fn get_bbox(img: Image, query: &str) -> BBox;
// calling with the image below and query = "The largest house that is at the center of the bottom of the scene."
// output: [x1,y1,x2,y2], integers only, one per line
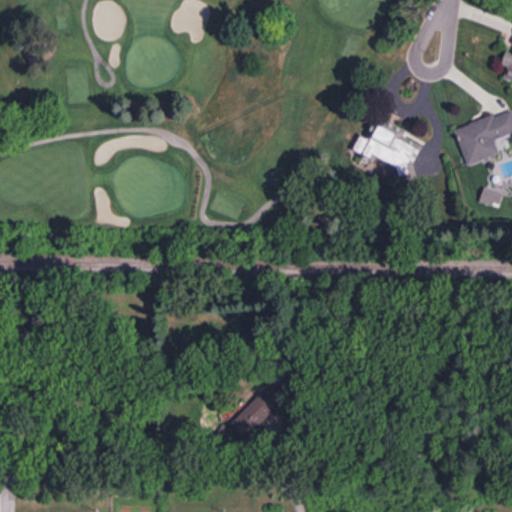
[234,394,274,434]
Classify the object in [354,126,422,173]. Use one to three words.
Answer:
house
